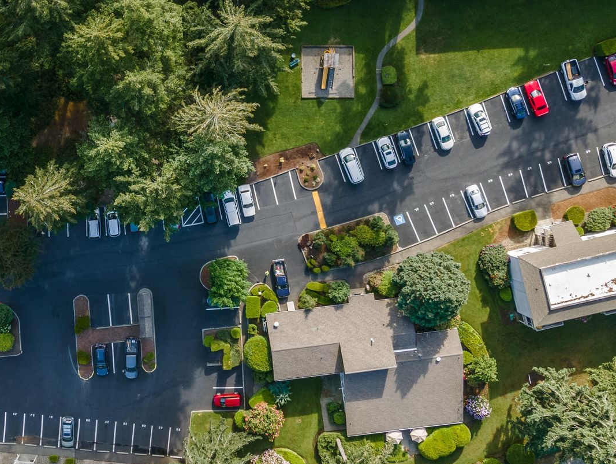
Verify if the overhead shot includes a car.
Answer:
Yes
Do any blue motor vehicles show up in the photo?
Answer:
Yes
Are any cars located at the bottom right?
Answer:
No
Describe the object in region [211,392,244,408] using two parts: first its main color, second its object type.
red car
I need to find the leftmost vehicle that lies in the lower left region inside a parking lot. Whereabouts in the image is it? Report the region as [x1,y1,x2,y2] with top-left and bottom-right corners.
[58,415,75,447]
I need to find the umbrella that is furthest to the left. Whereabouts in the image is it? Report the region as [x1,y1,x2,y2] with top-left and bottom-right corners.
[384,430,402,444]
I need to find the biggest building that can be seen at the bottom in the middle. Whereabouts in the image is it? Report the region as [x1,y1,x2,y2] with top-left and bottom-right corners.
[265,293,464,437]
